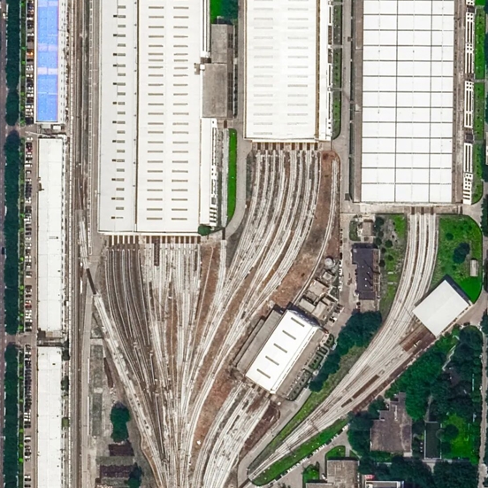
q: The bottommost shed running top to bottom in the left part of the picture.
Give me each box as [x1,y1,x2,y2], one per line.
[37,346,65,488]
